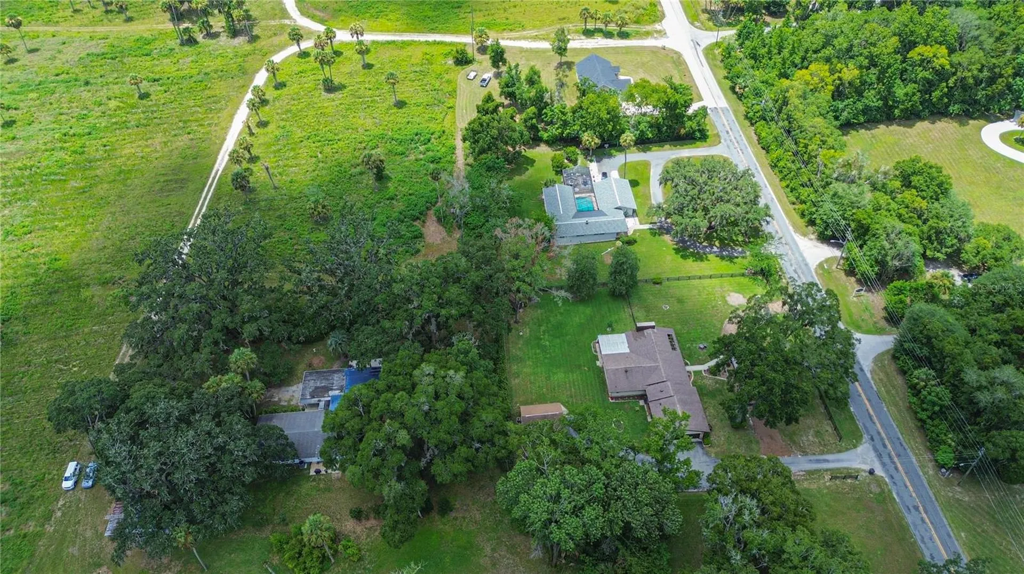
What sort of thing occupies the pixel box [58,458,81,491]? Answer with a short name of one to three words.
car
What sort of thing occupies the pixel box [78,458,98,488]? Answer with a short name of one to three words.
car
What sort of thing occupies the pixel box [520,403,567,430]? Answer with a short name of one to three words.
shed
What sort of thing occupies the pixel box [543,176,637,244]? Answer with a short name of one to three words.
building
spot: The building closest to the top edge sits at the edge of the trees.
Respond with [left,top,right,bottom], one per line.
[575,53,631,98]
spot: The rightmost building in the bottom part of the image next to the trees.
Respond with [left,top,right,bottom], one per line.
[597,320,710,438]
